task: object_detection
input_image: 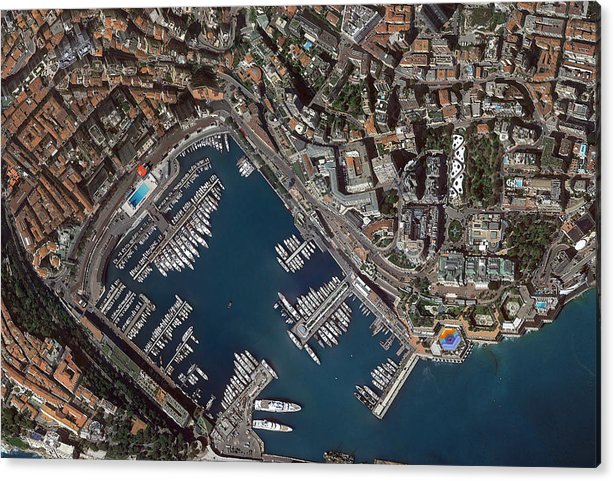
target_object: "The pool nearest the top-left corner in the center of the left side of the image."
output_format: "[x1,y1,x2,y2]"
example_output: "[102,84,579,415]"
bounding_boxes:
[122,174,158,217]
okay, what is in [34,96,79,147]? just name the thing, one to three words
building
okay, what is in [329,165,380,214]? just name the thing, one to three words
house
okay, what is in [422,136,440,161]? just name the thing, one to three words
building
